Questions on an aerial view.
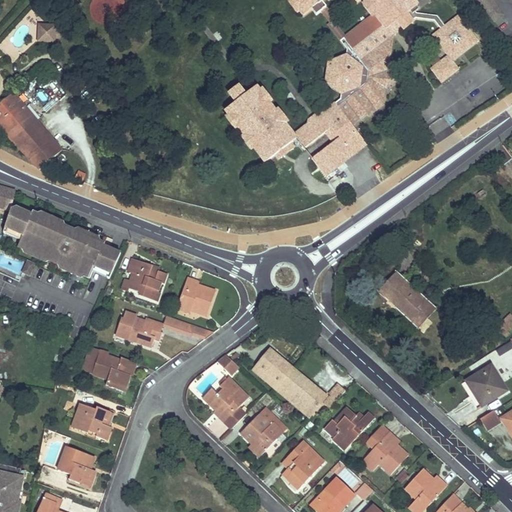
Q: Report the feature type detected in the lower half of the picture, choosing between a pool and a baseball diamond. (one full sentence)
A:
It is a pool that can be seen in the lower half of the picture.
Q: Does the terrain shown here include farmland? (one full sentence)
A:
No, the picture contains no farmland.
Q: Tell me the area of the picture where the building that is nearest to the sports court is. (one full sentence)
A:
The building that is nearest to the sports court appears toward the top left of the photo.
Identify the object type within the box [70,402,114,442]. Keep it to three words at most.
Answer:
house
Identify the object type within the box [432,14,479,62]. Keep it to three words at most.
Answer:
building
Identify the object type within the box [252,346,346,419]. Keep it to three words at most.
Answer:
building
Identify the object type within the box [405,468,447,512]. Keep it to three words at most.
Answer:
house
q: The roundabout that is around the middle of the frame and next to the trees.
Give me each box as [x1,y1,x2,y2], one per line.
[238,246,330,308]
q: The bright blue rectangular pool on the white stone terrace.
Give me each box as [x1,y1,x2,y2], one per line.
[196,372,219,394]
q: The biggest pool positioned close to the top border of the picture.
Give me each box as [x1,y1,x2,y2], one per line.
[10,24,30,48]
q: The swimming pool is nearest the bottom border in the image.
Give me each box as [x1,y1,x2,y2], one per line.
[44,440,62,466]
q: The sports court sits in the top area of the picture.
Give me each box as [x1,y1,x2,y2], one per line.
[90,0,126,26]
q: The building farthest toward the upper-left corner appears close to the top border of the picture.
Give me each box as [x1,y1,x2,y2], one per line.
[36,21,58,42]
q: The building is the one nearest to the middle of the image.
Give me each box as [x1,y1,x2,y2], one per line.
[178,276,216,318]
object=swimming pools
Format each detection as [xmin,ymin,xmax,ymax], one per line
[44,440,62,466]
[0,254,24,273]
[38,91,48,103]
[196,372,219,394]
[10,24,30,48]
